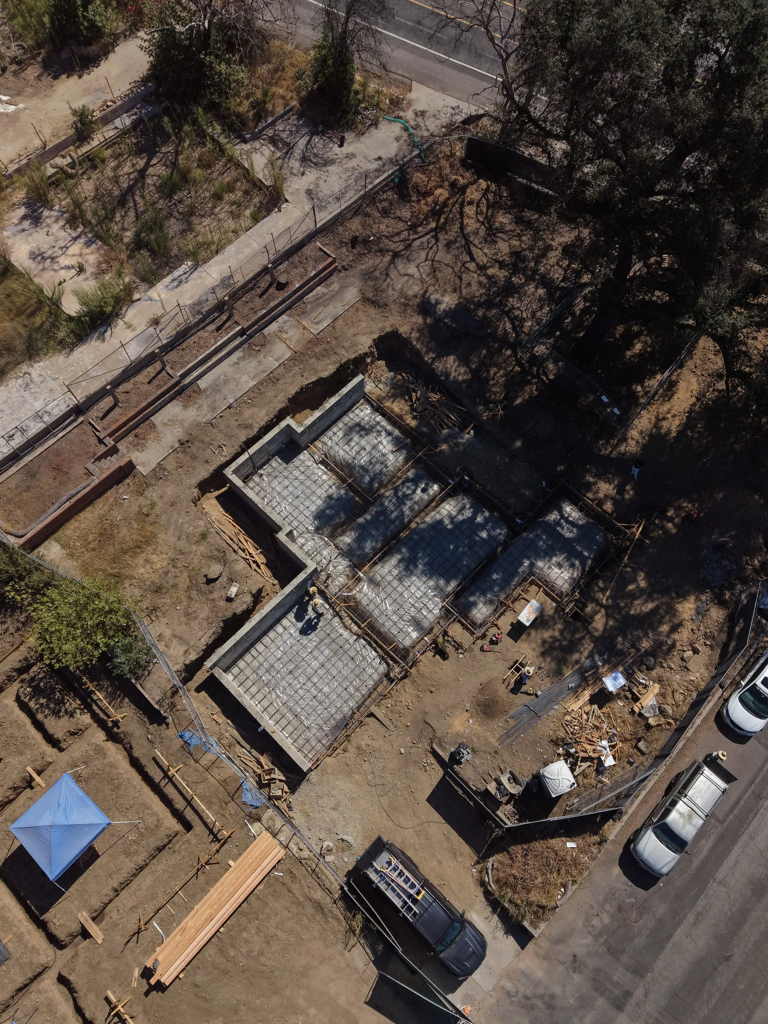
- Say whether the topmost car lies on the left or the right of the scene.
right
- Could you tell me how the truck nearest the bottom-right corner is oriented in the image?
at an angle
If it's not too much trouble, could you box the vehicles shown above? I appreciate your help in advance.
[627,749,741,875]
[355,834,492,983]
[726,659,768,742]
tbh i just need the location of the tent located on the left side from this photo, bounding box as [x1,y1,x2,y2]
[9,765,141,897]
